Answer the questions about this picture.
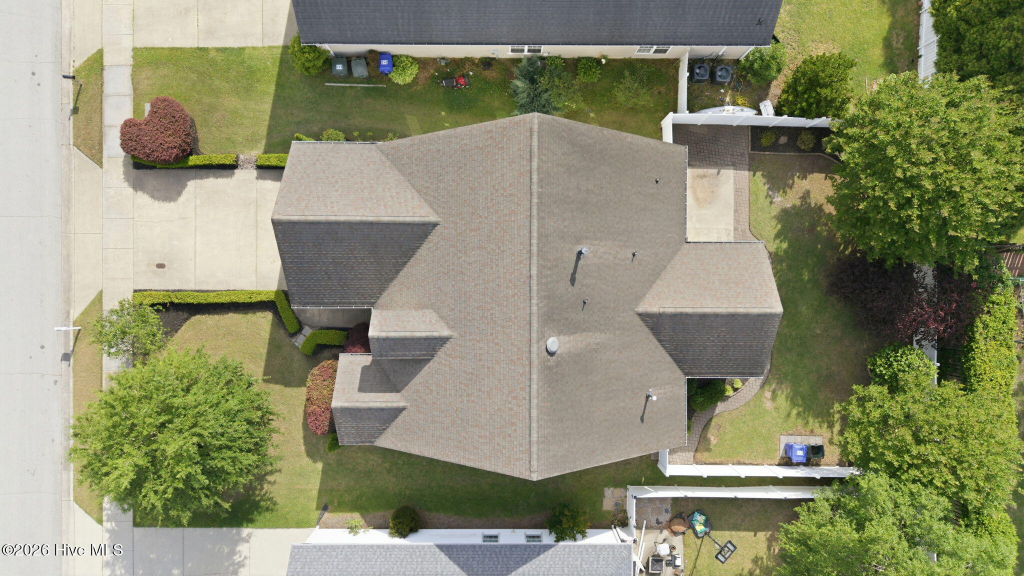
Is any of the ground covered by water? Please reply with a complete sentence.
No, the picture contains no water.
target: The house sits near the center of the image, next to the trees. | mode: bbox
[271,107,784,480]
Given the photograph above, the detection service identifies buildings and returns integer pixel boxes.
[271,107,784,480]
[293,0,784,60]
[286,527,634,576]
